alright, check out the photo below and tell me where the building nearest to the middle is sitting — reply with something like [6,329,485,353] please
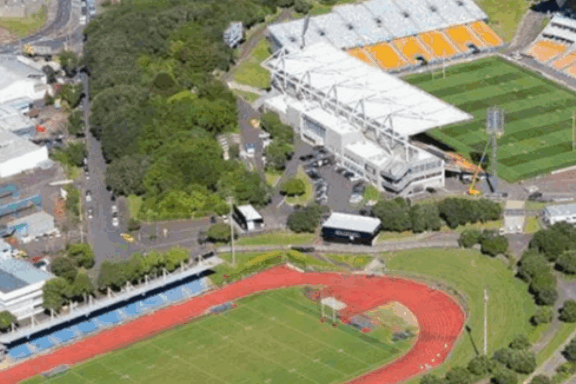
[238,205,263,234]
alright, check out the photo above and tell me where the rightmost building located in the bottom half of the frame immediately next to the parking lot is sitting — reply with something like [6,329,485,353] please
[323,213,380,249]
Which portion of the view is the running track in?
bottom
